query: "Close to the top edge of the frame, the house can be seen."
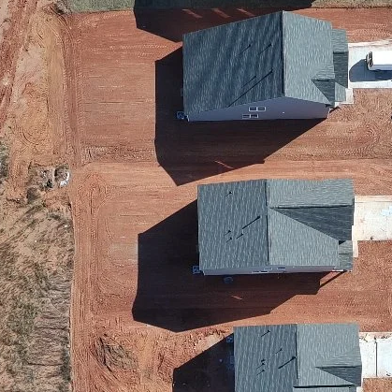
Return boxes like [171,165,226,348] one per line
[182,11,348,122]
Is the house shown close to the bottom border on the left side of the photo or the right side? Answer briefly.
right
